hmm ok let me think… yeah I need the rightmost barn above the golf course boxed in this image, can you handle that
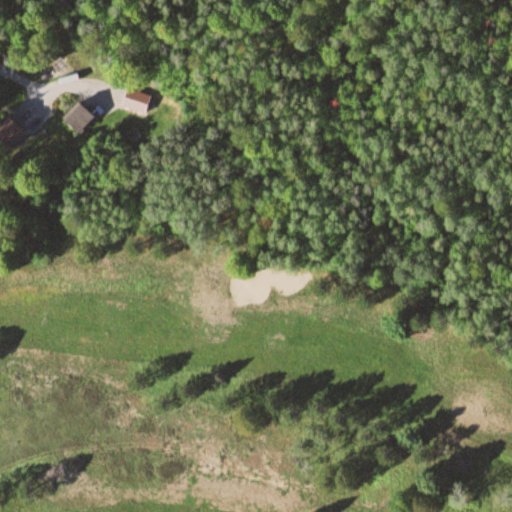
[122,89,149,116]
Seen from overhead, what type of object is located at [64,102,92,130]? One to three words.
house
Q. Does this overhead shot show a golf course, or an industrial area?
golf course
